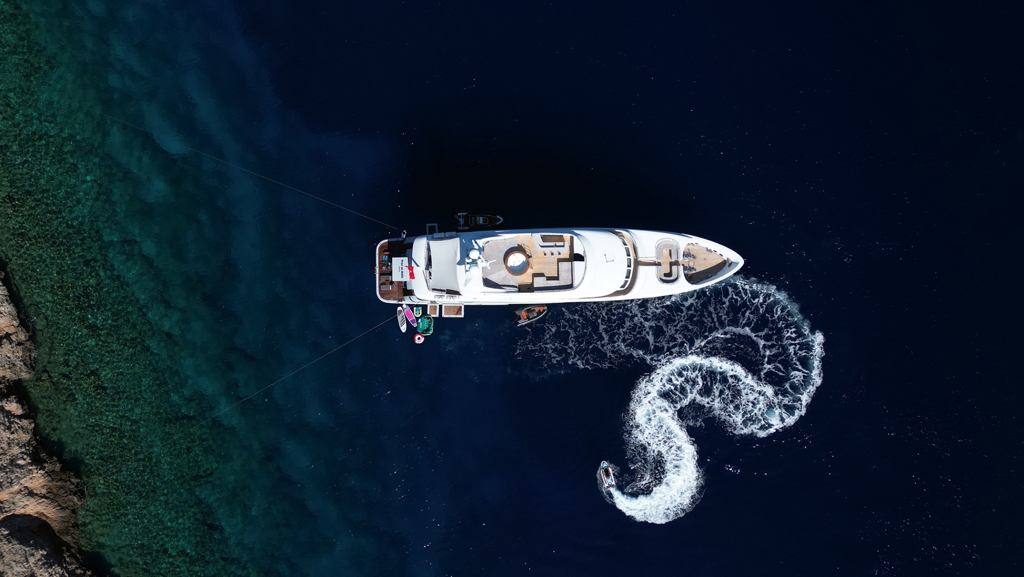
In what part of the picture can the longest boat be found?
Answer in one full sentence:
The longest boat is located in the center region of the scene.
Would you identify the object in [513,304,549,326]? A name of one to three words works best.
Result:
boat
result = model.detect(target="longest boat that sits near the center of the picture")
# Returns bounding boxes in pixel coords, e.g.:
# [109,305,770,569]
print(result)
[371,224,744,317]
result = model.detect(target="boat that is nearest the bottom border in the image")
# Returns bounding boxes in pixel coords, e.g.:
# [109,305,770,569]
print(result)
[601,461,615,489]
